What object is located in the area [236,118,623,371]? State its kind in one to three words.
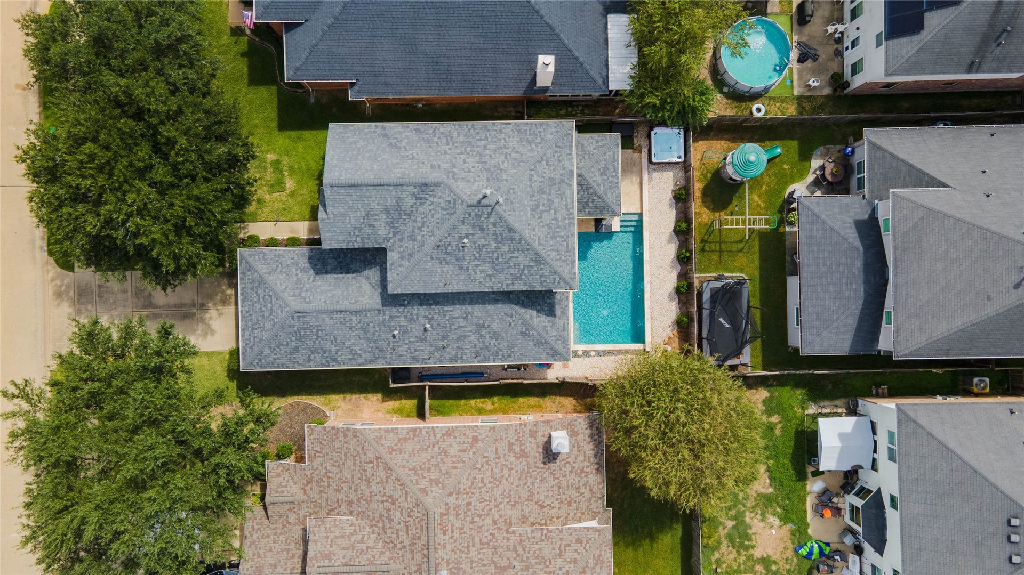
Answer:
house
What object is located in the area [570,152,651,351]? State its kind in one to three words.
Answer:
swimming pool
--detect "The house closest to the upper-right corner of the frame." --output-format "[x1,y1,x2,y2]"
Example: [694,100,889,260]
[844,0,1024,93]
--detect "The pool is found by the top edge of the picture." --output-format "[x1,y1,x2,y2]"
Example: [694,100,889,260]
[712,15,792,94]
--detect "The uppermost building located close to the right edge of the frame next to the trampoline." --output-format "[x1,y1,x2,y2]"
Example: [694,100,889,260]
[788,123,1024,361]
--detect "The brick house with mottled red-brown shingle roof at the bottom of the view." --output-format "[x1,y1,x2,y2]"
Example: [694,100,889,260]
[232,413,615,575]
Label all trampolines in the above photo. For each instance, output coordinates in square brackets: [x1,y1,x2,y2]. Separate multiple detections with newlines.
[699,279,765,367]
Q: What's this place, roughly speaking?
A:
residential area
